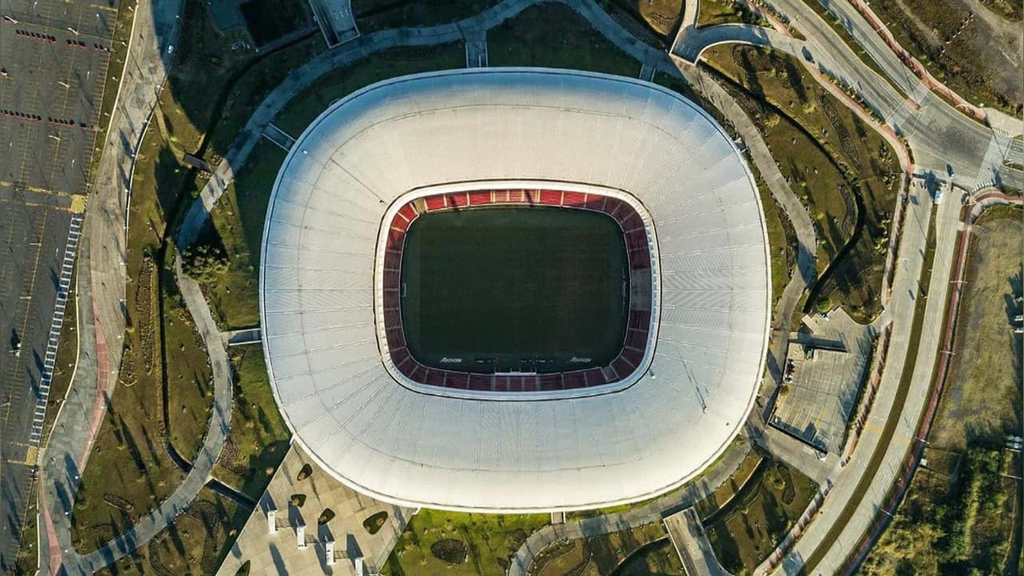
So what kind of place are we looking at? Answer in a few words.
sports ground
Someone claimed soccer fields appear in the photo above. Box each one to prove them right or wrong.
[400,204,630,374]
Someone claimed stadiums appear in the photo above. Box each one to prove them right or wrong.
[261,67,771,512]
